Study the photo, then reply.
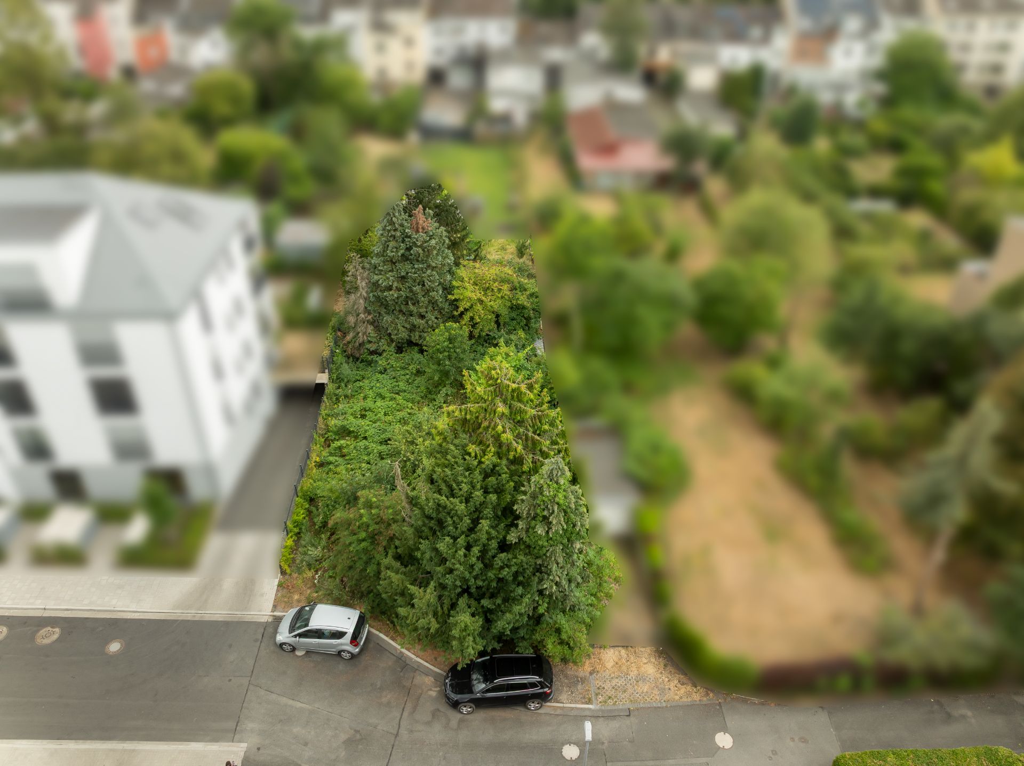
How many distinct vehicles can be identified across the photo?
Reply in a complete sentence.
The photo contains 2 vehicles.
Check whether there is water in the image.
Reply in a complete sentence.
No, the picture contains no water.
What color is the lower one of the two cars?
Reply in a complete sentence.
The lower one of the two cars looks black in the image.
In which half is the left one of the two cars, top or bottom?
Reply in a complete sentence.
You can find the left one of the two cars in the bottom half.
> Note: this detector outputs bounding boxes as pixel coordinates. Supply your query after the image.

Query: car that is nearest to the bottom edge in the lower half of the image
[445,655,555,715]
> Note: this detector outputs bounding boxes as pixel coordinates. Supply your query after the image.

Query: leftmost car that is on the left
[271,603,366,660]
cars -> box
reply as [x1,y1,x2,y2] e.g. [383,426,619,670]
[271,603,366,660]
[445,655,555,715]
